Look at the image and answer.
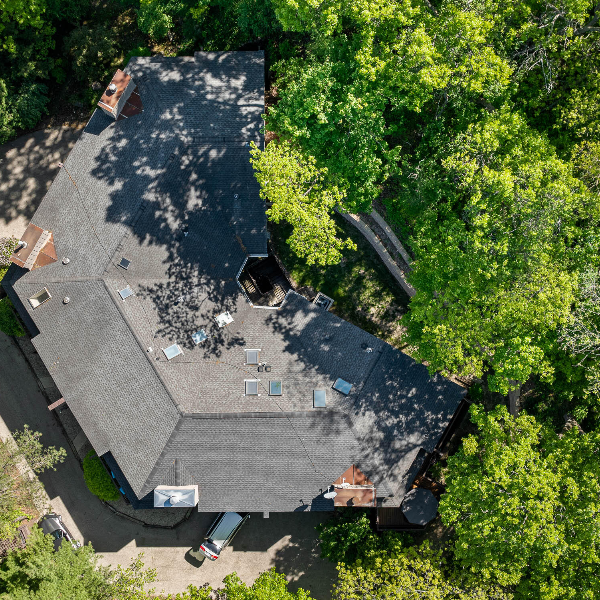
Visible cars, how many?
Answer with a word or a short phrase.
2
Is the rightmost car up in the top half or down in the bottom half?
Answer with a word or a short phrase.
bottom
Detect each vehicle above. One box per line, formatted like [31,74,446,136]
[198,512,250,562]
[39,512,84,561]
